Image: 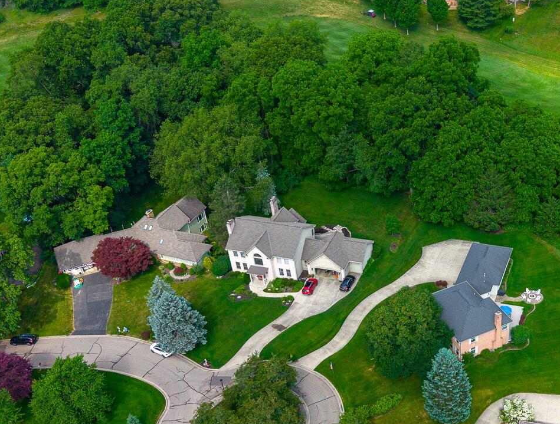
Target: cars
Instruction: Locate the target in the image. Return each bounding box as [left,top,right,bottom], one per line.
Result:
[300,275,319,294]
[8,328,37,344]
[336,273,357,292]
[147,341,173,357]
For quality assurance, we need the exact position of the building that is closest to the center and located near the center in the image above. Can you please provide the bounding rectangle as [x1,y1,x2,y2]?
[225,196,373,287]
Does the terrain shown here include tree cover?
Yes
